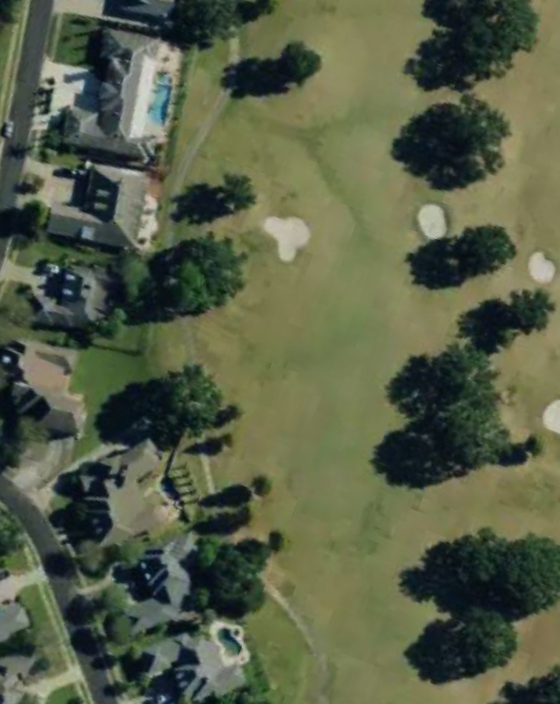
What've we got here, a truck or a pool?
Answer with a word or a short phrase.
pool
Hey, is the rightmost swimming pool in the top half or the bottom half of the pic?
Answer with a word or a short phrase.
bottom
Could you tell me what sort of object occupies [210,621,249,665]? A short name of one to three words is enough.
swimming pool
